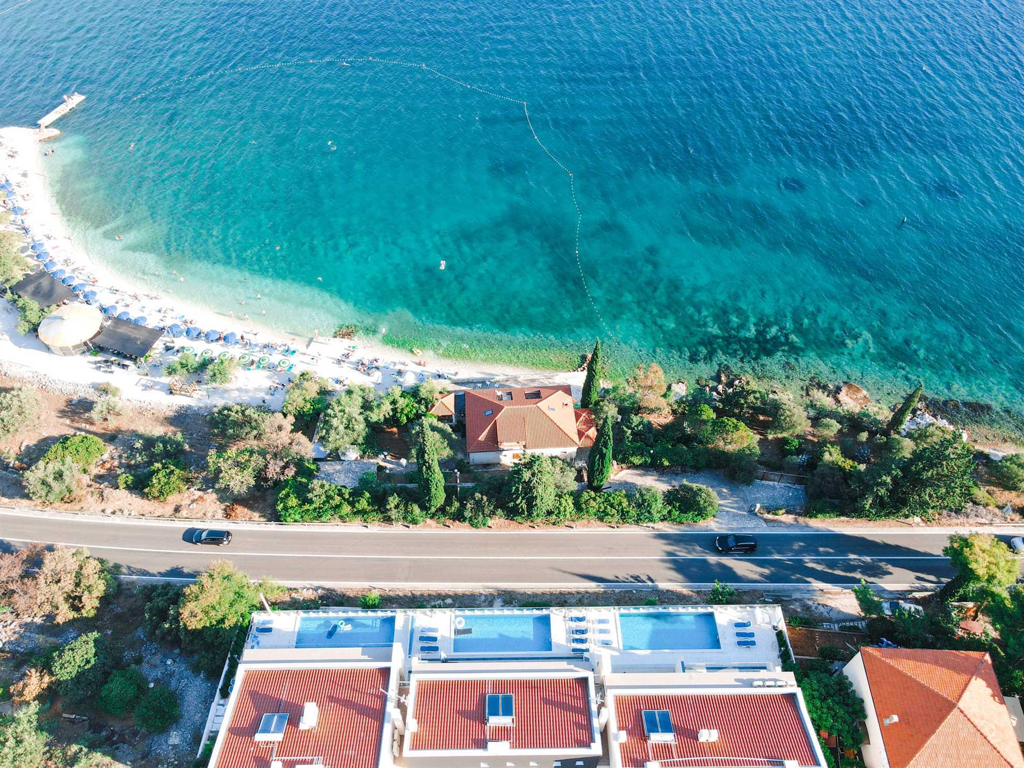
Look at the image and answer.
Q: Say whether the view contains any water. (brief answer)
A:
Yes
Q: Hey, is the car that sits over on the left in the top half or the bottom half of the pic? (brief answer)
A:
bottom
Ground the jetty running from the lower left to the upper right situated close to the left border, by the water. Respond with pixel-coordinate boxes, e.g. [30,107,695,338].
[35,92,90,127]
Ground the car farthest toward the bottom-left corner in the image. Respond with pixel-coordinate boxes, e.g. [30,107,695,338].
[187,527,232,548]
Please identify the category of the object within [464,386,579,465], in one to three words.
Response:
house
